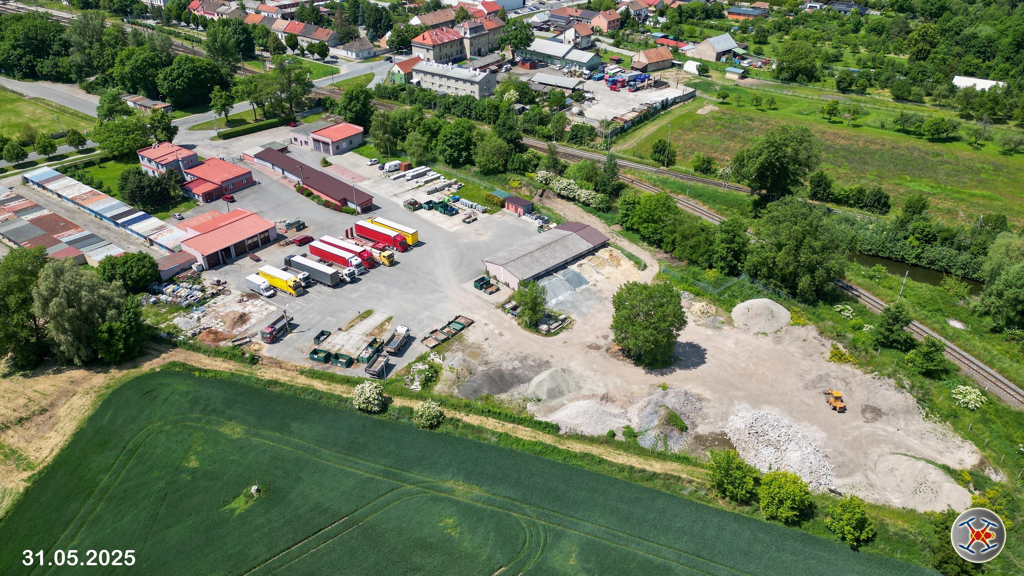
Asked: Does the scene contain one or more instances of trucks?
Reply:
Yes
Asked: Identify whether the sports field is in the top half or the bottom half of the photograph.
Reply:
top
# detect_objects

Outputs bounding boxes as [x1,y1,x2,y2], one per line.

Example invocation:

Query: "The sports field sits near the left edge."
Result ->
[0,93,100,155]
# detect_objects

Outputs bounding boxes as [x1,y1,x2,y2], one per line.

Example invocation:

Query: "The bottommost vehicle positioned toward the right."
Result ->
[822,389,850,412]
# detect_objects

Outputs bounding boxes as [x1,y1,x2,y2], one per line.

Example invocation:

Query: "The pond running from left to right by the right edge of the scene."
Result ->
[847,252,987,293]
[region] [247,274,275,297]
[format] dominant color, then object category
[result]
white vehicle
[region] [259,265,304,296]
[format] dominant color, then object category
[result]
yellow truck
